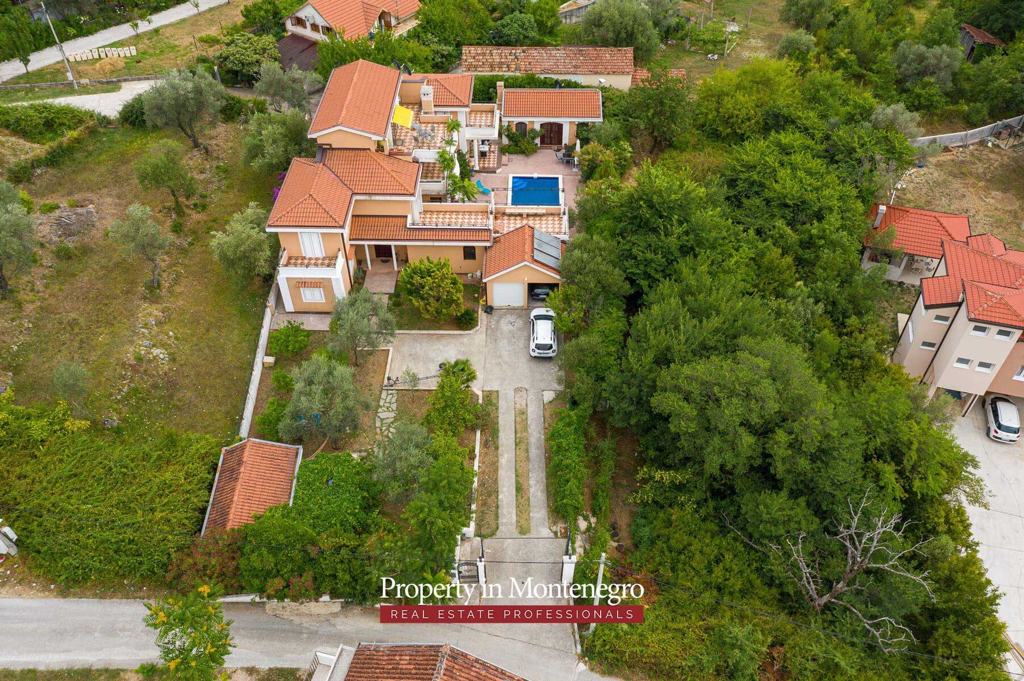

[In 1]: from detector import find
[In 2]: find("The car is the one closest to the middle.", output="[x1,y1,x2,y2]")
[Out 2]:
[526,310,558,355]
